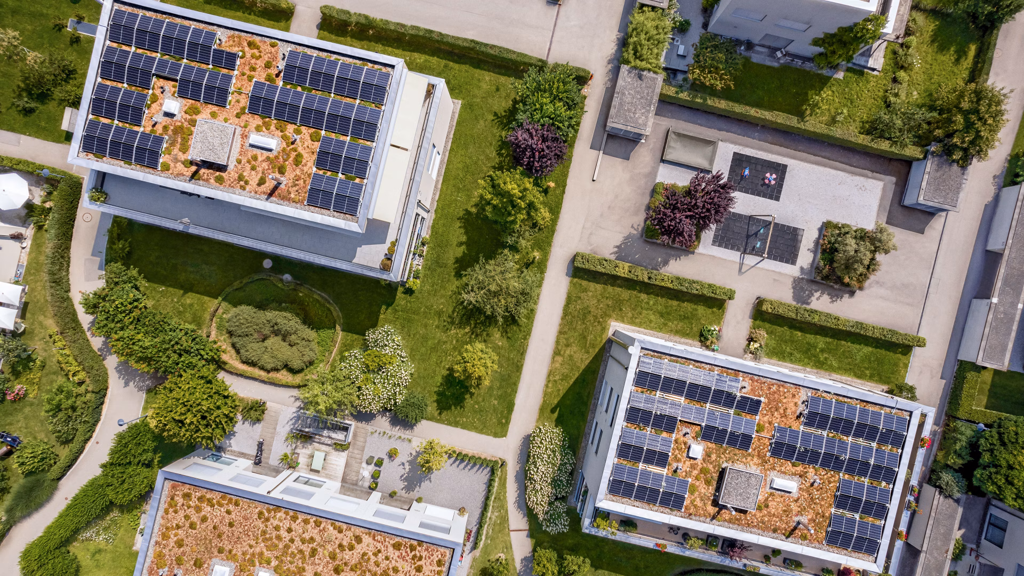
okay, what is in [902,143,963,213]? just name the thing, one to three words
building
